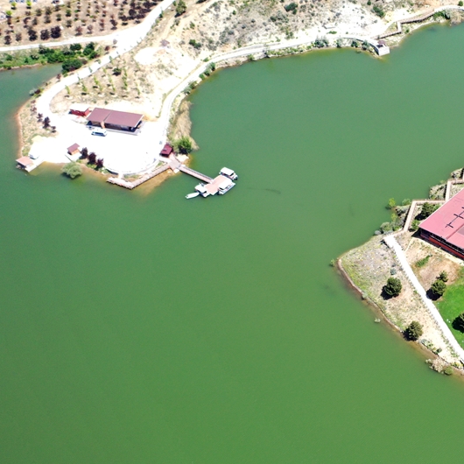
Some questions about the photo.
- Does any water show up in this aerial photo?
Yes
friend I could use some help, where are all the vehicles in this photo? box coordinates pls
[90,129,108,137]
[29,154,40,159]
